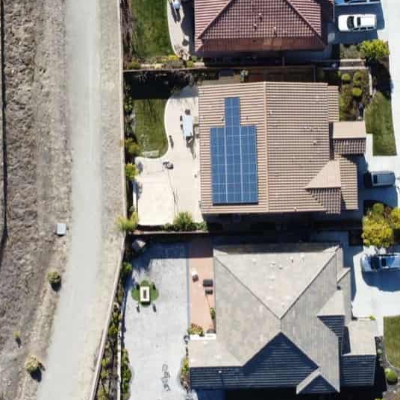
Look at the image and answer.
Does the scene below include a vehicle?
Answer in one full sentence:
Yes, there's a vehicle down there.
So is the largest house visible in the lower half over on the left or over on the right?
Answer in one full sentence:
You can find the largest house visible in the lower half on the right side of the picture.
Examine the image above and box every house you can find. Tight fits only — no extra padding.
[189,243,377,394]
[198,82,366,213]
[194,0,335,52]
